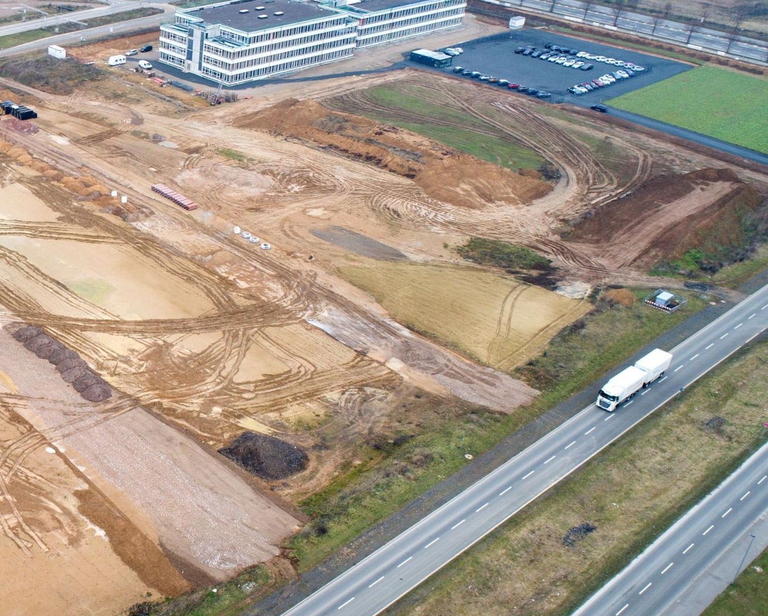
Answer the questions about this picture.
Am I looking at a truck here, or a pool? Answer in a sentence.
Of the two, only a truck appears.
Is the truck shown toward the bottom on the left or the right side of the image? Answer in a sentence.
The truck shown toward the bottom appears in the right half of the scene.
